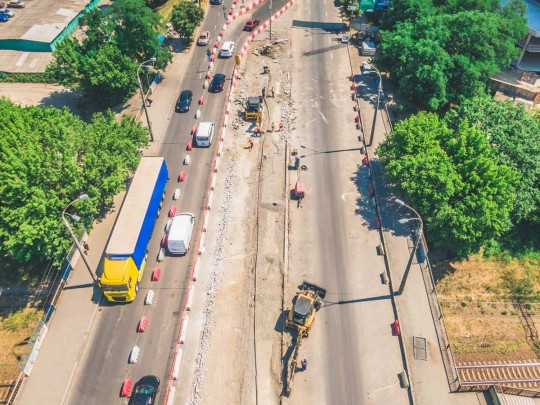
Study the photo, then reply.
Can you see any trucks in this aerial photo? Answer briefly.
Yes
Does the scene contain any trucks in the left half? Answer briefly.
Yes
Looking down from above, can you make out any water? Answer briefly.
No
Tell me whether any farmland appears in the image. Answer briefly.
No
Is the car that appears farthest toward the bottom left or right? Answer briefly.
left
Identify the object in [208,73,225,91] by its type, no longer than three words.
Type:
car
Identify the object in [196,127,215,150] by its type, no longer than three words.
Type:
vehicle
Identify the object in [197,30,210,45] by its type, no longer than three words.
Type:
vehicle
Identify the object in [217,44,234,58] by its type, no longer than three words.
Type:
car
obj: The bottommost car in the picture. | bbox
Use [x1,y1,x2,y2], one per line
[127,378,159,405]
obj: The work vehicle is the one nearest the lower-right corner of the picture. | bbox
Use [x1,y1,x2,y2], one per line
[283,277,330,393]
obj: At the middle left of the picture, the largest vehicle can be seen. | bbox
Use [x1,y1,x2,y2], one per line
[100,159,169,305]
